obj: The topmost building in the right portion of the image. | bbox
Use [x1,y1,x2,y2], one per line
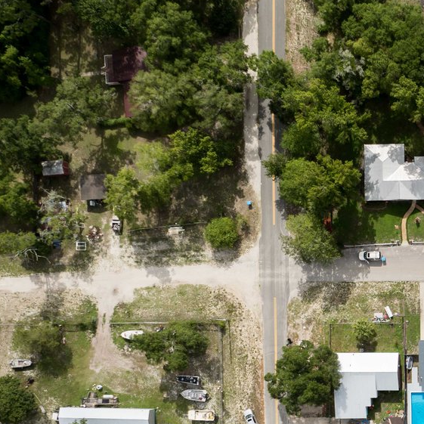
[365,144,424,201]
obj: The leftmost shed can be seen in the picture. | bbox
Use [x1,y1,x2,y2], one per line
[40,161,74,176]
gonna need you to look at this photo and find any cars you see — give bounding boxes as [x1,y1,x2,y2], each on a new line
[243,408,256,424]
[358,251,380,260]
